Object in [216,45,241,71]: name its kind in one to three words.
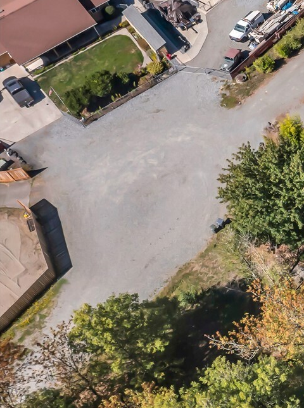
car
